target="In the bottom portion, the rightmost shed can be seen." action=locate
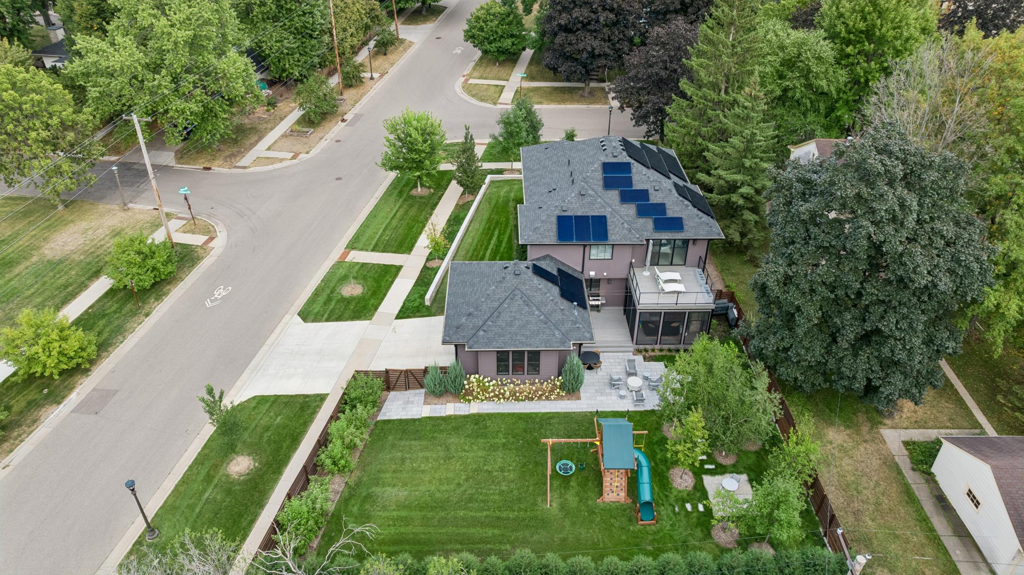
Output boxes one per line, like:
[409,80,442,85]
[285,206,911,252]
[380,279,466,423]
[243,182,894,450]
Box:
[931,430,1024,575]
